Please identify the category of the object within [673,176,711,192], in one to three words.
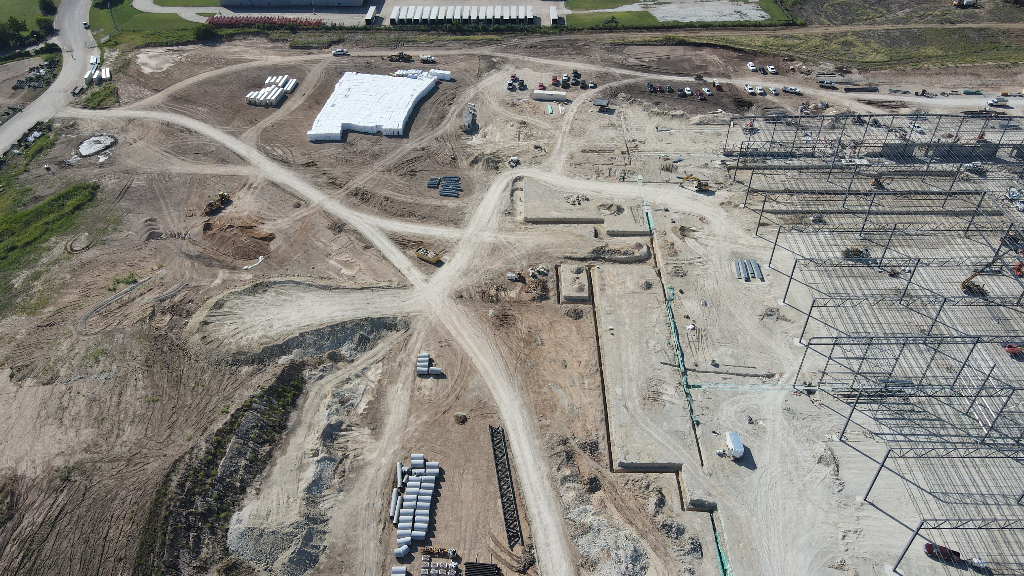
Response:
work vehicle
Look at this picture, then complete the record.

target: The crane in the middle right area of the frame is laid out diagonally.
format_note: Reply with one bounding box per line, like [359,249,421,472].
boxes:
[954,215,1024,302]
